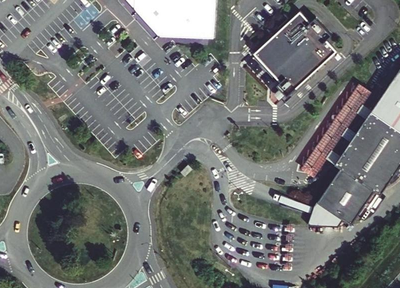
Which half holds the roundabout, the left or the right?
left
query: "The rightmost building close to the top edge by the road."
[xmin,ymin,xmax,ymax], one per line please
[242,12,336,100]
